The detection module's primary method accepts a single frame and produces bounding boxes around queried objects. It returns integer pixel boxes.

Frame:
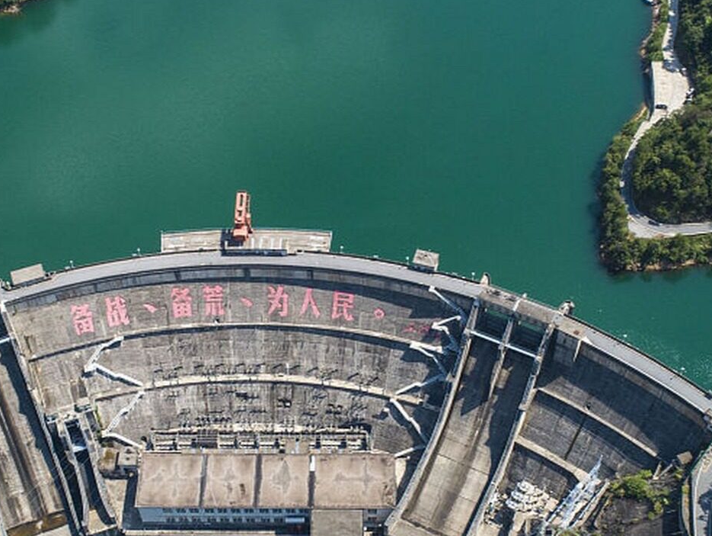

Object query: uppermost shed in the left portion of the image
[10,264,46,292]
